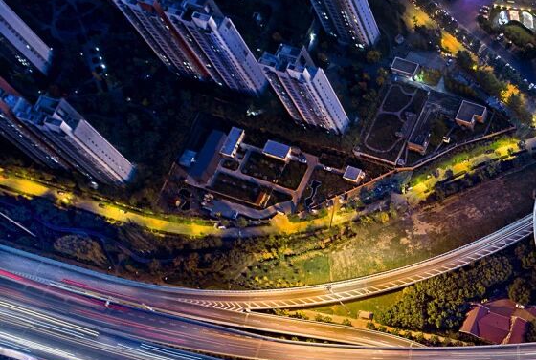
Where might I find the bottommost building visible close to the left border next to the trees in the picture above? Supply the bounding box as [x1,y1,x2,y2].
[0,89,136,184]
